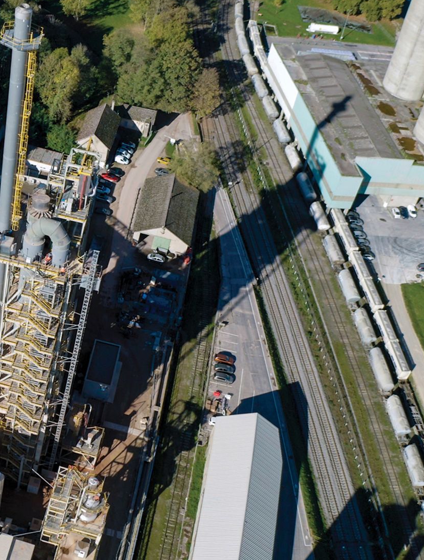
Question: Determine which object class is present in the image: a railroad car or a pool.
railroad car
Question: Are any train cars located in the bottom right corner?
Yes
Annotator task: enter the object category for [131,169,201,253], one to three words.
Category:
building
